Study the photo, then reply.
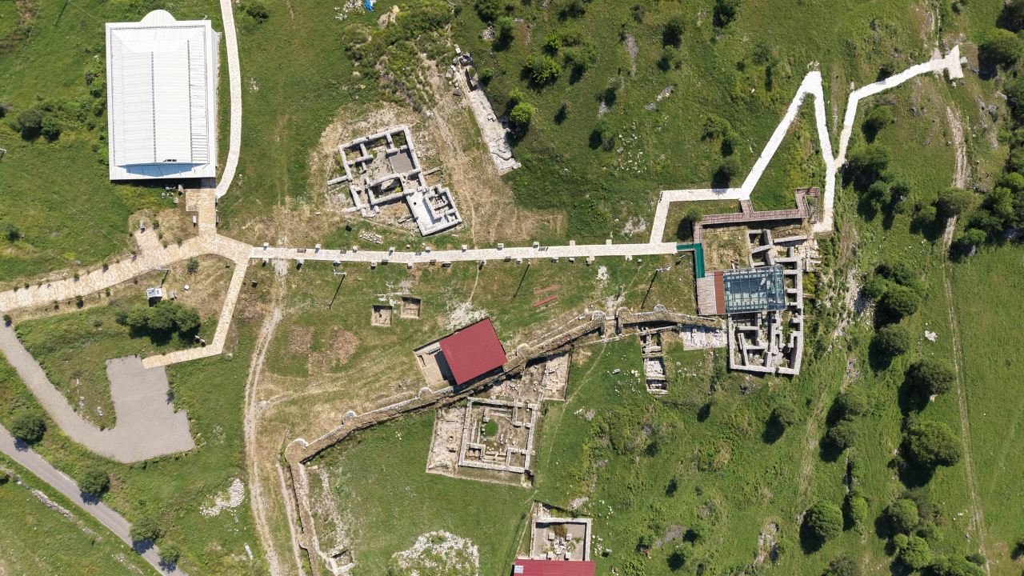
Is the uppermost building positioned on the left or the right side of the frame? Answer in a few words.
left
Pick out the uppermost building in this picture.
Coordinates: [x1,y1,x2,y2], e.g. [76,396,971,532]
[106,9,222,188]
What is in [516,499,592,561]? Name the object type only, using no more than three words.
building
